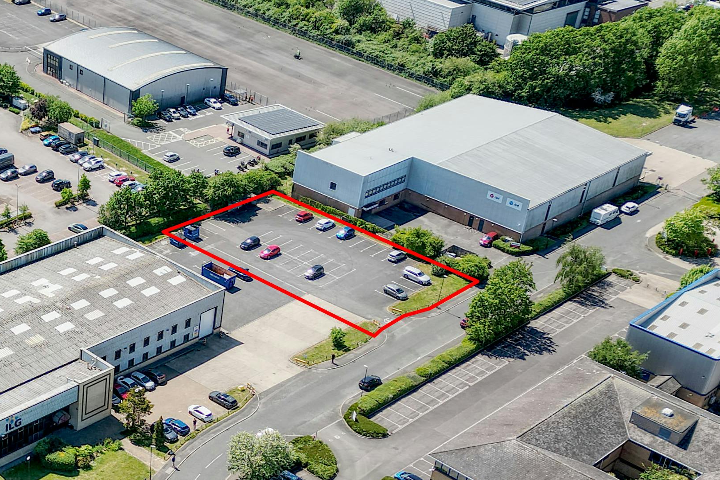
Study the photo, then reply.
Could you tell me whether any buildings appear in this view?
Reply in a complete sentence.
Yes, the image includes a building.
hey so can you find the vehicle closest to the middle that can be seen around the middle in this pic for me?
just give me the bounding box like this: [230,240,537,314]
[333,225,358,242]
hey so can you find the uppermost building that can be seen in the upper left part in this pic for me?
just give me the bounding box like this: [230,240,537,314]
[42,26,229,116]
